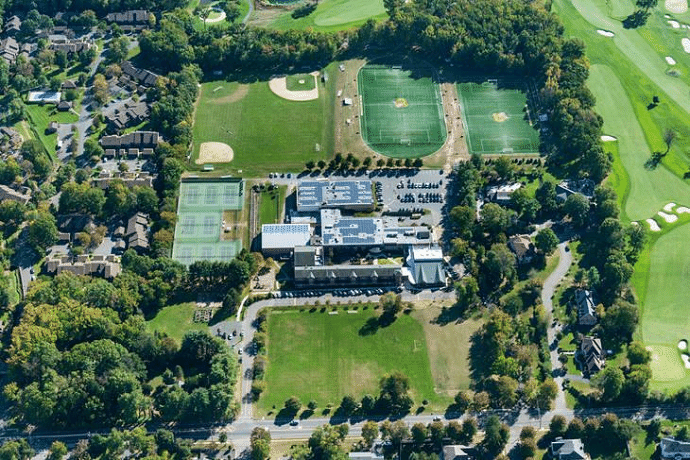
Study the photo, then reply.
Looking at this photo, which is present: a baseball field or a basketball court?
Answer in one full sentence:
It is a baseball field that can be seen here.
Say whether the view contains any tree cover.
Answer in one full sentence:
Yes, tree cover can be seen from above here.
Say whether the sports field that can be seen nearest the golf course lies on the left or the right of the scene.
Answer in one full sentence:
You can find the sports field that can be seen nearest the golf course on the right side of the picture.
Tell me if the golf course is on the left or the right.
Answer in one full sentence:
You can find the golf course on the right side of the picture.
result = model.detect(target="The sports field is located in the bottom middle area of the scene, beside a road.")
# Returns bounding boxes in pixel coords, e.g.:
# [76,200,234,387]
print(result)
[253,306,447,421]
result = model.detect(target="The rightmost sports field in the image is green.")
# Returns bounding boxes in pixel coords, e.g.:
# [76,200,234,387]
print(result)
[455,77,543,154]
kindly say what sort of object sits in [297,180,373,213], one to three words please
building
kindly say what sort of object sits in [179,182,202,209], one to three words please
tennis court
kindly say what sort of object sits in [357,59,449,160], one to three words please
sports field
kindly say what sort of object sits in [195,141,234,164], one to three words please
baseball field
